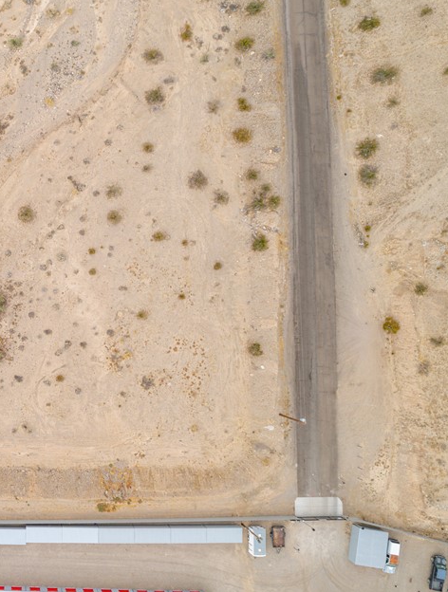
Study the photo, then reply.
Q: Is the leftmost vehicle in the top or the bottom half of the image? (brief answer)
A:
bottom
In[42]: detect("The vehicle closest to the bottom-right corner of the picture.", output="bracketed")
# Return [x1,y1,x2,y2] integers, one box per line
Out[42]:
[431,554,448,592]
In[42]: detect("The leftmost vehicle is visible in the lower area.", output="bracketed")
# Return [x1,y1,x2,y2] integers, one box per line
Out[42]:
[247,523,267,559]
